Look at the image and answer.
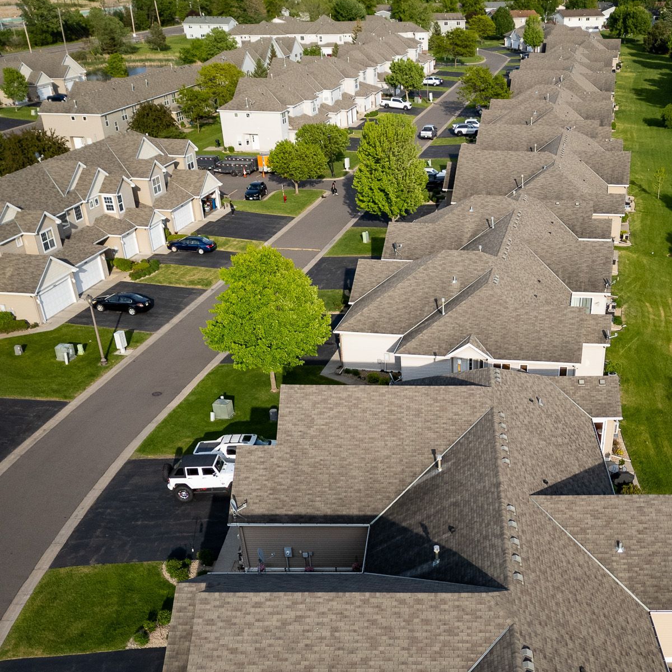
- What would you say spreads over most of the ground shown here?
buildings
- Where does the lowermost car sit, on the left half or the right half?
left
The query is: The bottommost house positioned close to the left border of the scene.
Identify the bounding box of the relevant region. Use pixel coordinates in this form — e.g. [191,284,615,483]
[0,118,226,322]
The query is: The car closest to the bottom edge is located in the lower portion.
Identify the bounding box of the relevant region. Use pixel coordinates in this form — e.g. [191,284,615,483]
[164,459,233,502]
